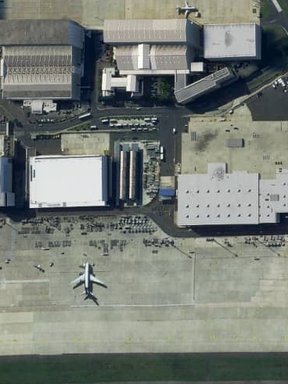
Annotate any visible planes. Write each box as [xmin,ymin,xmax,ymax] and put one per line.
[69,261,105,294]
[177,0,197,17]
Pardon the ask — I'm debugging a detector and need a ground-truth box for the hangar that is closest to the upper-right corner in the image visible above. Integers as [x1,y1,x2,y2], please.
[204,22,261,61]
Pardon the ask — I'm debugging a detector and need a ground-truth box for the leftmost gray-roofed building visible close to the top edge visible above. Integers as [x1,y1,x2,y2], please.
[0,19,89,102]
